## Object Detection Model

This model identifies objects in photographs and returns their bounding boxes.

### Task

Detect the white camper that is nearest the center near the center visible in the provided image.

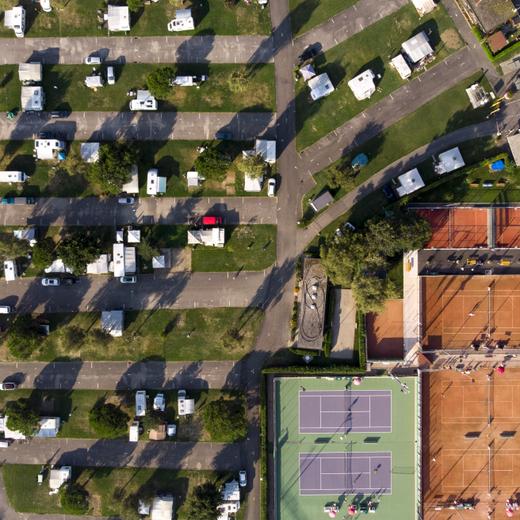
[205,229,224,246]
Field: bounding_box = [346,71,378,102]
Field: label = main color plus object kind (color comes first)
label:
white camper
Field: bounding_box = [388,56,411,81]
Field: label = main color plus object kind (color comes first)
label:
white camper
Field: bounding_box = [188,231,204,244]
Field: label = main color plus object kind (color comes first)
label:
white gazebo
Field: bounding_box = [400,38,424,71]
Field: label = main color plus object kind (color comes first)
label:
white tent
